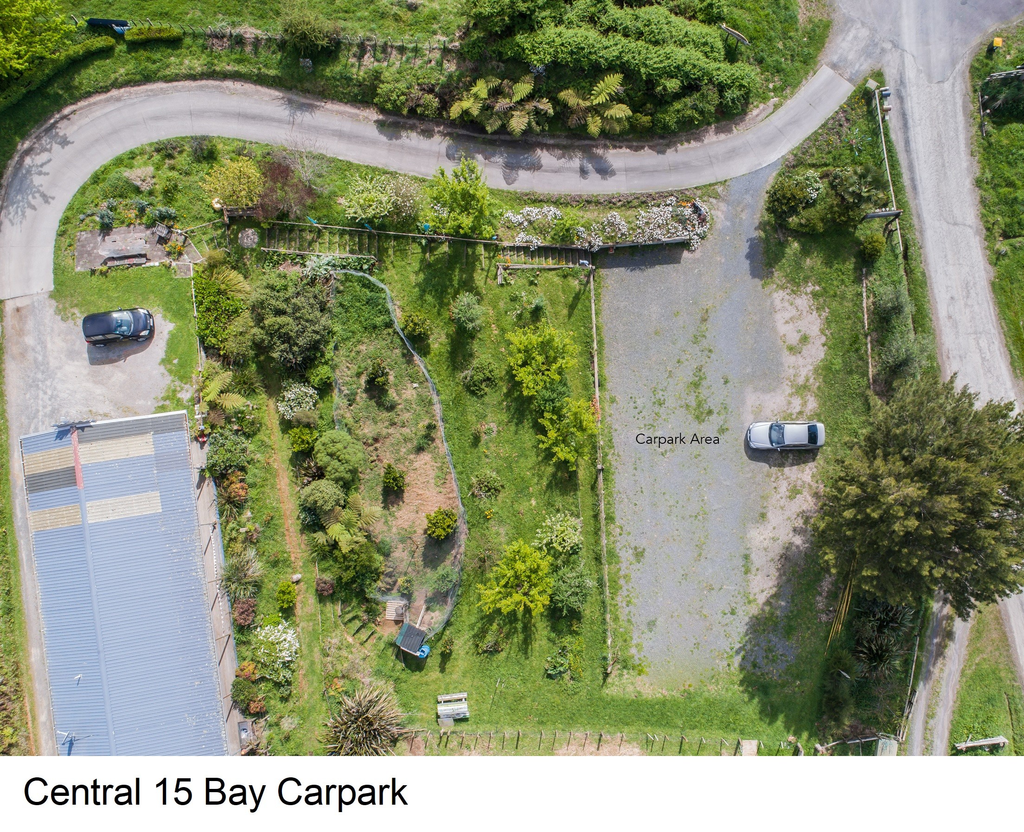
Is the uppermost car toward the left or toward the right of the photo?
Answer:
left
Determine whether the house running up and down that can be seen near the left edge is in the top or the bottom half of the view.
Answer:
bottom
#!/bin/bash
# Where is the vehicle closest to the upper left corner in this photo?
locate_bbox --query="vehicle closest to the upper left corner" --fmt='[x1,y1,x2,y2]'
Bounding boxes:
[77,308,155,346]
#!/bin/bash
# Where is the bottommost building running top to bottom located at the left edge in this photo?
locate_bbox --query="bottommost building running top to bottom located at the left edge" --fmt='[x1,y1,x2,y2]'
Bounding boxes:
[16,413,242,832]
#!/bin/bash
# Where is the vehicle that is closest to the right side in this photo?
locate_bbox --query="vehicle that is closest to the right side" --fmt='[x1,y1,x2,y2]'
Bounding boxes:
[748,415,830,453]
